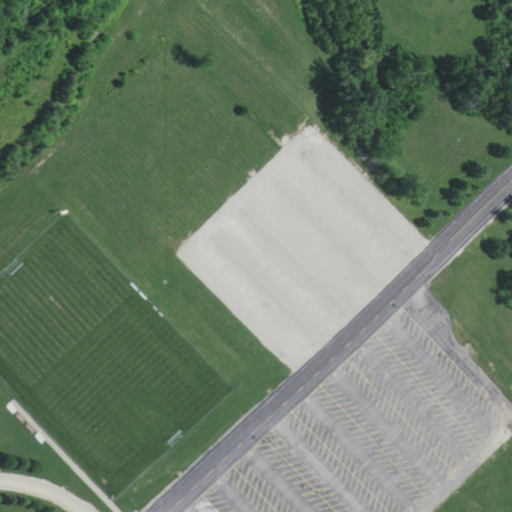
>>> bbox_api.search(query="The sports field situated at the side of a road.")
[0,214,232,498]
